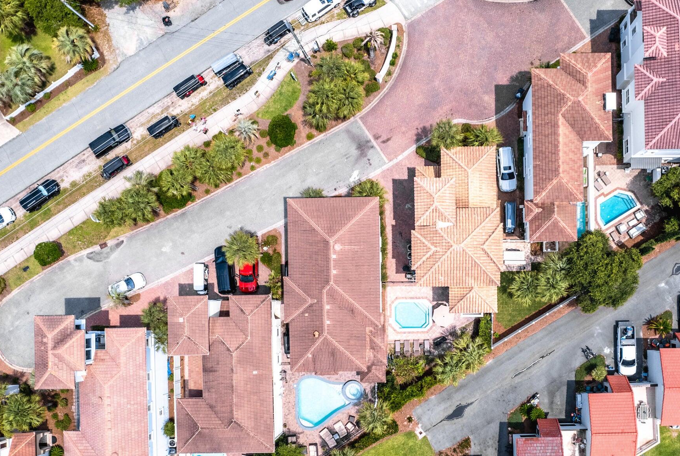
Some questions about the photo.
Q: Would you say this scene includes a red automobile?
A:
Yes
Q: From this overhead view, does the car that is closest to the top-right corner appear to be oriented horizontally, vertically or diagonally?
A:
vertically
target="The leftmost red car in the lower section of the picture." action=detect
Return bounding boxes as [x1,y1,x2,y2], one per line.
[236,259,257,294]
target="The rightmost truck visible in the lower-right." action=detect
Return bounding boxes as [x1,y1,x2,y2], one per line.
[618,319,641,377]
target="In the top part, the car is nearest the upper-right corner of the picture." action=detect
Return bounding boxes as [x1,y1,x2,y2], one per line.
[498,146,519,190]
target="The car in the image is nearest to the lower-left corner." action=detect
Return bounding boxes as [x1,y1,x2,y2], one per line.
[103,270,146,298]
